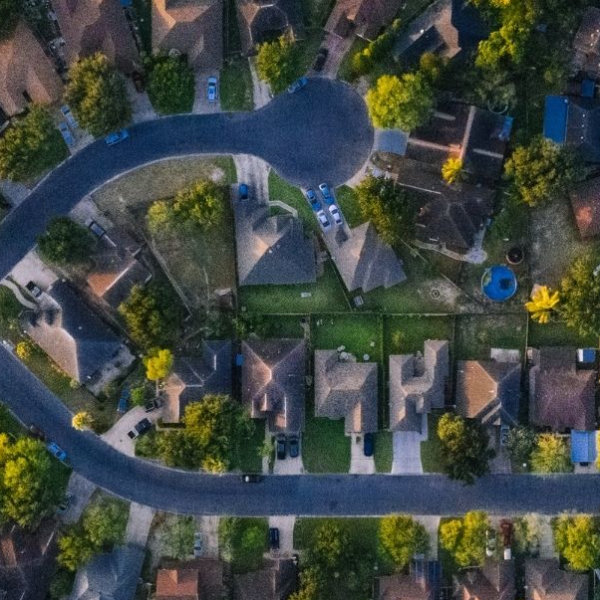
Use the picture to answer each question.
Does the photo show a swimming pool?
Yes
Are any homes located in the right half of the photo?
Yes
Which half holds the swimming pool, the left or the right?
right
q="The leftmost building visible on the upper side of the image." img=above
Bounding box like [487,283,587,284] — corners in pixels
[0,24,64,113]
